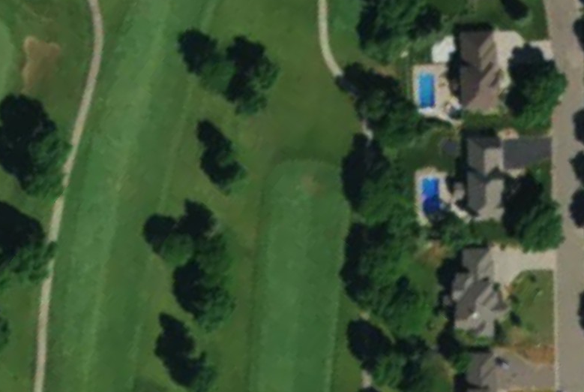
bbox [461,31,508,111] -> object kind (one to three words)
house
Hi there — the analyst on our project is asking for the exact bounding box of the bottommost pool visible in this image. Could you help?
[422,175,442,216]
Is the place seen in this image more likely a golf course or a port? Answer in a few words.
golf course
